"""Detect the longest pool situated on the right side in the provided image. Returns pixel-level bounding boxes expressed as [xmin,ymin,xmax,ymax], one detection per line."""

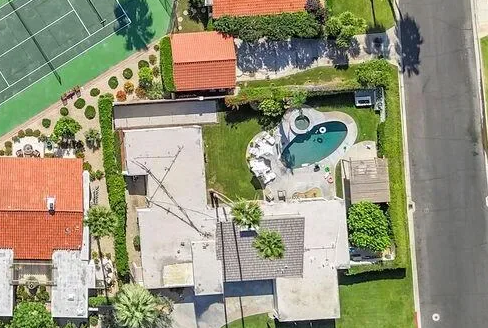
[280,119,350,172]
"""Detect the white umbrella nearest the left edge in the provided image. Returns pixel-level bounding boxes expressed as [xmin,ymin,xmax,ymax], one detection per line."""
[250,158,265,173]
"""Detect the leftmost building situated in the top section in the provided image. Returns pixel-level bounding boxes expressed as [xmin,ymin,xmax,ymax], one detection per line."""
[170,32,237,91]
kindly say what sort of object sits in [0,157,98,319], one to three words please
house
